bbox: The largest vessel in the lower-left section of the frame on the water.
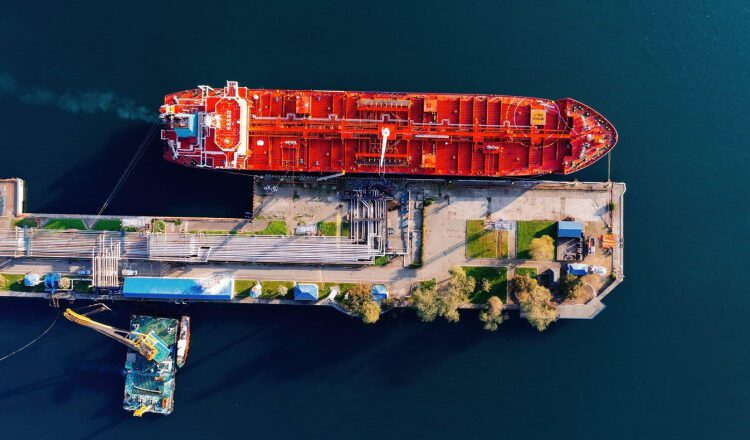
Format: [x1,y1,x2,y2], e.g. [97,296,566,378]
[64,302,180,418]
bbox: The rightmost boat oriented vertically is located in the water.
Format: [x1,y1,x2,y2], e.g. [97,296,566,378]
[177,315,192,368]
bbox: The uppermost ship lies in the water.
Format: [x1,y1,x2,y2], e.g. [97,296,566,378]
[158,79,620,177]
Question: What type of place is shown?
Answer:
port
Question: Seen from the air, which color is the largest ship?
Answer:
red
